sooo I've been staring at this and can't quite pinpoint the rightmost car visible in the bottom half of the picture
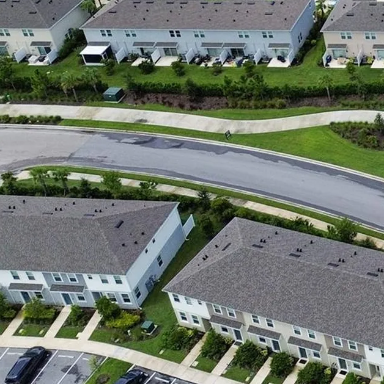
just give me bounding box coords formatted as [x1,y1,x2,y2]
[111,368,150,384]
